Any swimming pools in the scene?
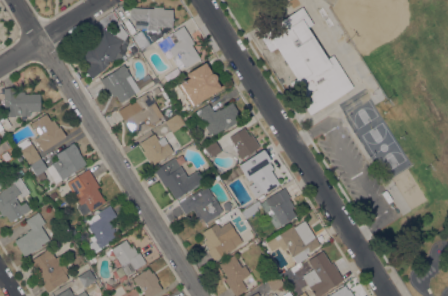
Yes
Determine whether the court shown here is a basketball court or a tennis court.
basketball court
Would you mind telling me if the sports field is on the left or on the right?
right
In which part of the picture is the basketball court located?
right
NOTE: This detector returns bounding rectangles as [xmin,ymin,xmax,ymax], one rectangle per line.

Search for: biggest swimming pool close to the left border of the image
[14,125,33,142]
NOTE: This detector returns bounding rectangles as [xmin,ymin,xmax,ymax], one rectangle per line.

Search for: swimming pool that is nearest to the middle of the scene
[214,156,234,168]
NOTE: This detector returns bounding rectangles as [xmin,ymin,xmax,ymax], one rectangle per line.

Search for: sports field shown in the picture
[329,0,448,202]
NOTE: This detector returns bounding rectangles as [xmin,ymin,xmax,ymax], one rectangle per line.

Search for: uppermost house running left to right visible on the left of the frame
[130,8,174,29]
